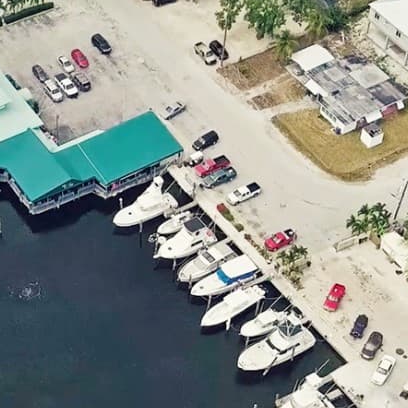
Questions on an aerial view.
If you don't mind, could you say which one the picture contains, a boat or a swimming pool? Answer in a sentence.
It is a boat that can be seen here.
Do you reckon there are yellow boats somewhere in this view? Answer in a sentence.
No, the picture doesn't show any yellow boat.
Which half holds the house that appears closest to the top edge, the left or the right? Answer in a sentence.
The house that appears closest to the top edge sits on the right side.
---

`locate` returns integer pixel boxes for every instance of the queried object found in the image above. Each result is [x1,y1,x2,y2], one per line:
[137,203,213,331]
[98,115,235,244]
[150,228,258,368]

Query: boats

[278,368,341,404]
[203,276,270,329]
[115,172,180,229]
[292,357,331,408]
[179,239,243,284]
[159,210,197,233]
[240,308,320,380]
[242,308,294,336]
[192,258,268,300]
[153,203,219,261]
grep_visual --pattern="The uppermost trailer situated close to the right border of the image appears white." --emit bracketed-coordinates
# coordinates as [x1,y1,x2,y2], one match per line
[380,233,408,276]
